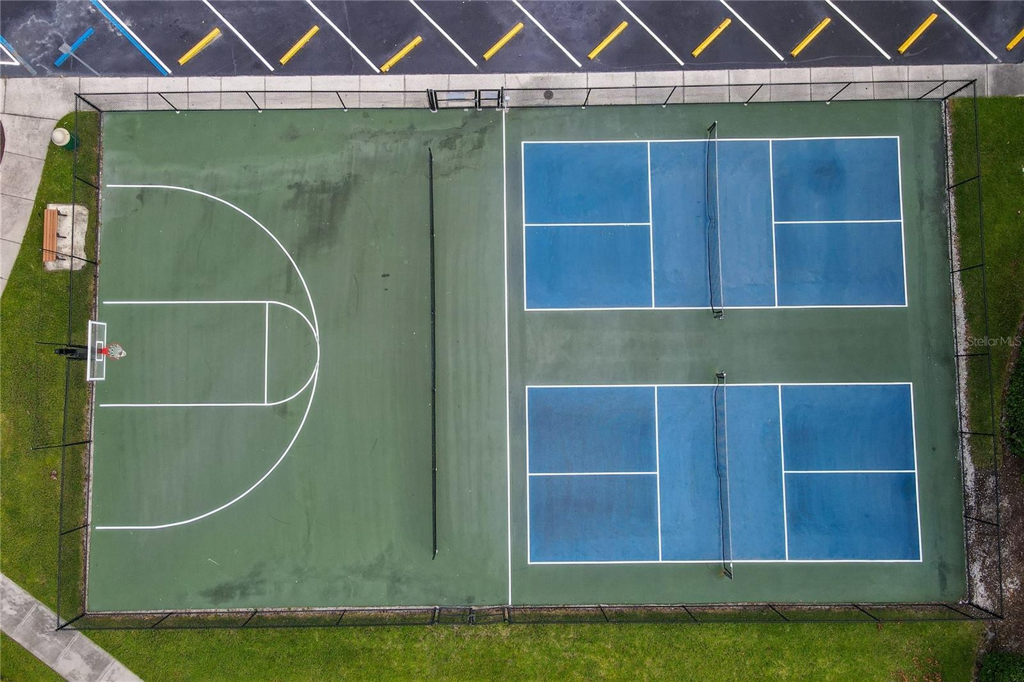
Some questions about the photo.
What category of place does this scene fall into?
sports ground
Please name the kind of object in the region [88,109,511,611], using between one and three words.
basketball court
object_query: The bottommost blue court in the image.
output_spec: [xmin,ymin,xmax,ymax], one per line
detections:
[526,382,923,564]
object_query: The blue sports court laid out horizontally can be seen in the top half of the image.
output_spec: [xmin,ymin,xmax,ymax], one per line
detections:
[522,136,908,310]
